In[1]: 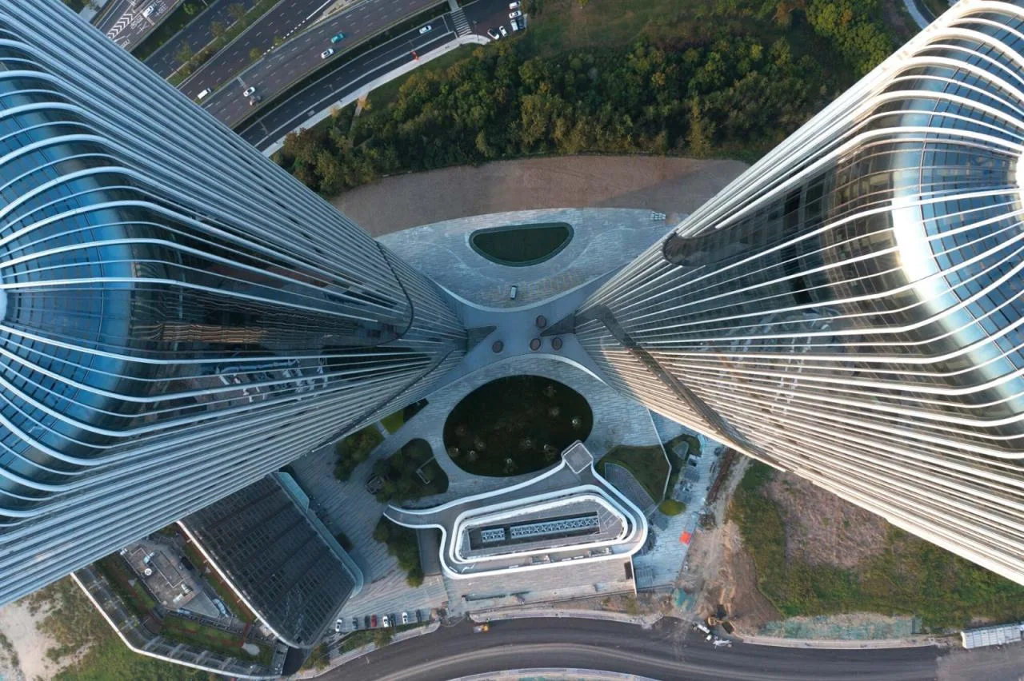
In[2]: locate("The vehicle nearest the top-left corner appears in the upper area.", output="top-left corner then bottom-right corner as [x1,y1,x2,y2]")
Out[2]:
[139,1,155,18]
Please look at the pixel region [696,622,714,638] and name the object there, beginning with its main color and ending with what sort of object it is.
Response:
white vehicle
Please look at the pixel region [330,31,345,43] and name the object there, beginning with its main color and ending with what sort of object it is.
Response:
blue vehicle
